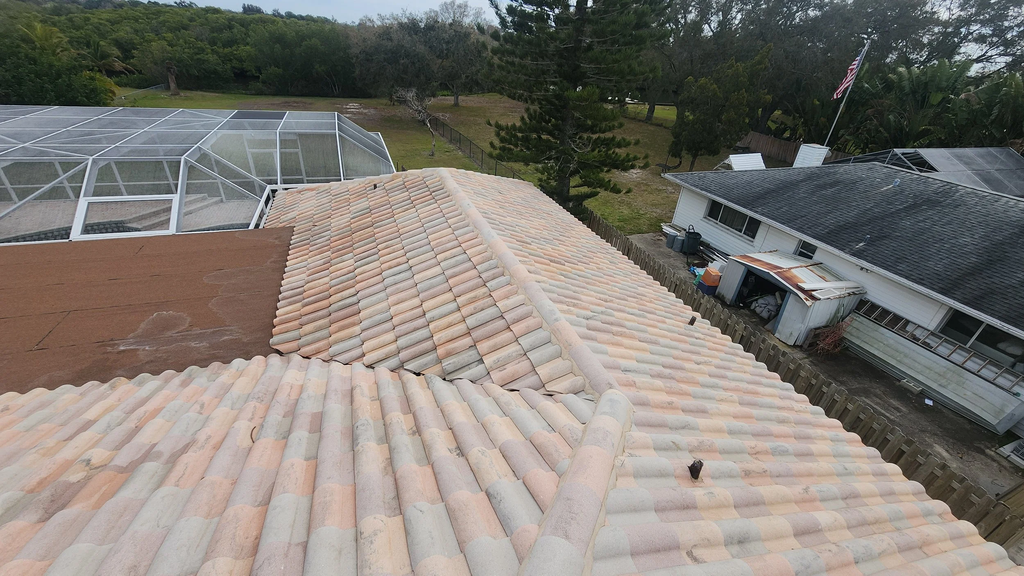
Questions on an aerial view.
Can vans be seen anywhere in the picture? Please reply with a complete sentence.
No, I can see no van in this picture.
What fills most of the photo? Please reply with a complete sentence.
What you mostly see from above here is buildings.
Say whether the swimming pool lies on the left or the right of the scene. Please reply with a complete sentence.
The swimming pool appears in the left half of the scene.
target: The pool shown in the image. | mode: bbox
[0,202,239,242]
